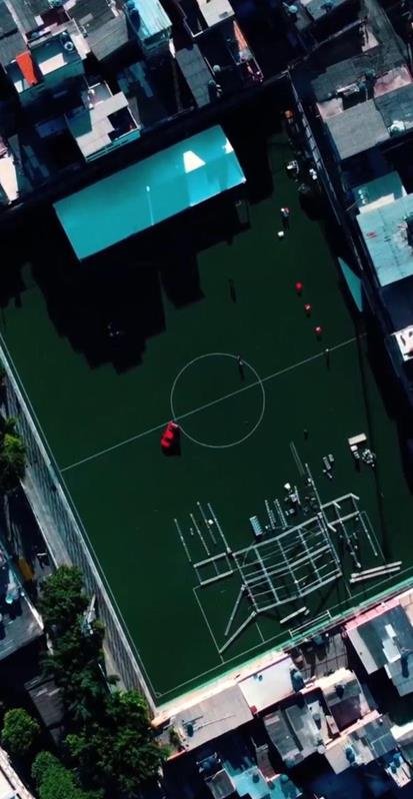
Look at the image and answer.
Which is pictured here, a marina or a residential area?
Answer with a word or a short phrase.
residential area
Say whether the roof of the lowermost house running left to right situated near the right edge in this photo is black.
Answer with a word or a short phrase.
Yes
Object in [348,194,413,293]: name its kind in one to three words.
house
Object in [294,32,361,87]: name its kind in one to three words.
house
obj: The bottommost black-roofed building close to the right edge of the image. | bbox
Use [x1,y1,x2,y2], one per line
[300,756,400,799]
